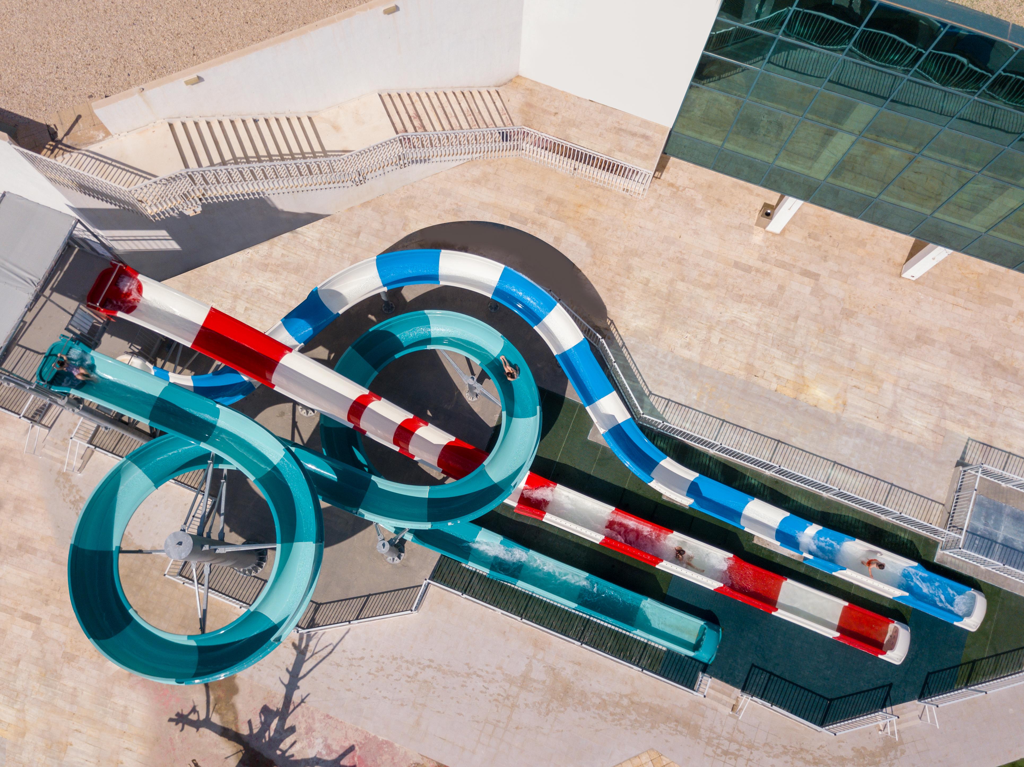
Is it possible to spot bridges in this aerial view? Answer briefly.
No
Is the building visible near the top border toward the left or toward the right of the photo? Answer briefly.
right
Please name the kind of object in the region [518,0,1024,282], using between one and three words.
building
